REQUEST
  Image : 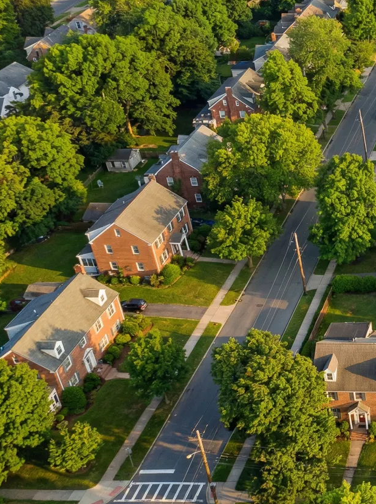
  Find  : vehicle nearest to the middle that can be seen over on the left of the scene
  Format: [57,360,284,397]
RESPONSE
[118,294,153,311]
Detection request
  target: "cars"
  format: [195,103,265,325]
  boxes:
[118,294,153,311]
[5,294,30,312]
